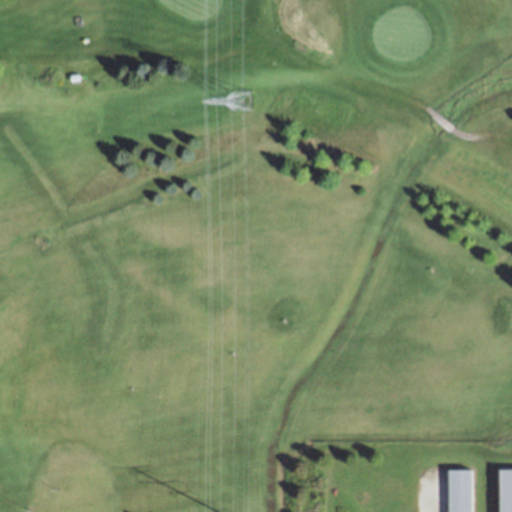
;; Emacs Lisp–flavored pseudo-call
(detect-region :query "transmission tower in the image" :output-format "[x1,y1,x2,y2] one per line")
[204,92,252,110]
